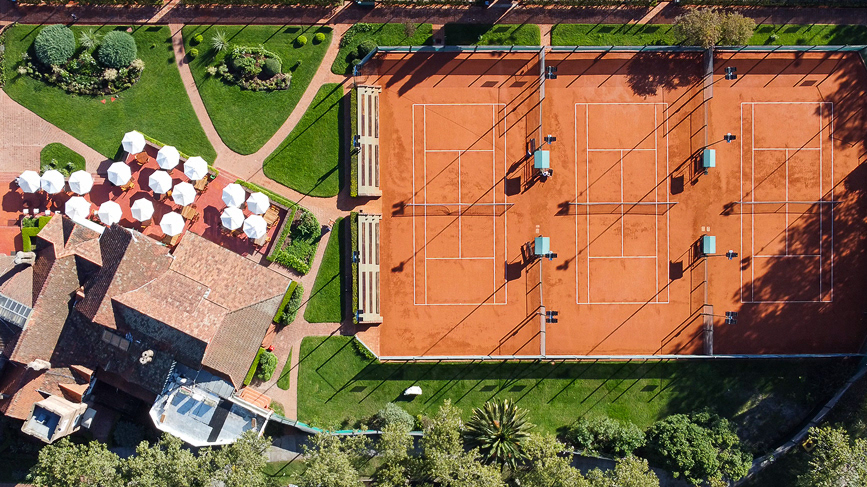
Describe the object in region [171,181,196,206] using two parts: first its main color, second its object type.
white umbrella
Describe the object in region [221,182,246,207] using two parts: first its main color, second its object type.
white umbrella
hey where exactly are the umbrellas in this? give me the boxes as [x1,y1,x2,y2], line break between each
[246,191,270,215]
[148,169,173,194]
[160,212,184,235]
[69,170,92,195]
[97,201,123,225]
[157,145,180,169]
[16,169,41,193]
[171,181,196,206]
[242,215,266,239]
[184,156,207,180]
[221,182,246,207]
[219,206,244,230]
[107,162,131,186]
[130,196,156,221]
[64,196,89,220]
[121,130,146,154]
[41,169,65,193]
